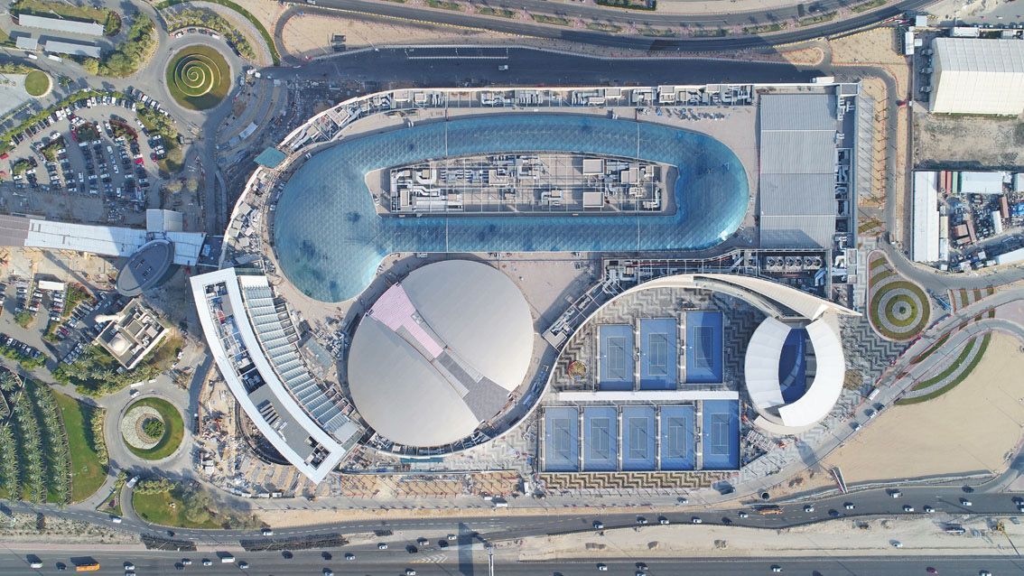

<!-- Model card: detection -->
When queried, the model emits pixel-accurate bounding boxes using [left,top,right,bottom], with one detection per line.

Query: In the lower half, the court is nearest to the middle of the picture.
[596,324,634,391]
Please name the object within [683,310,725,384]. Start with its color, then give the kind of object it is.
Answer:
blue tennis court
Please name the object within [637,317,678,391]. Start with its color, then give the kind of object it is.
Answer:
blue tennis court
